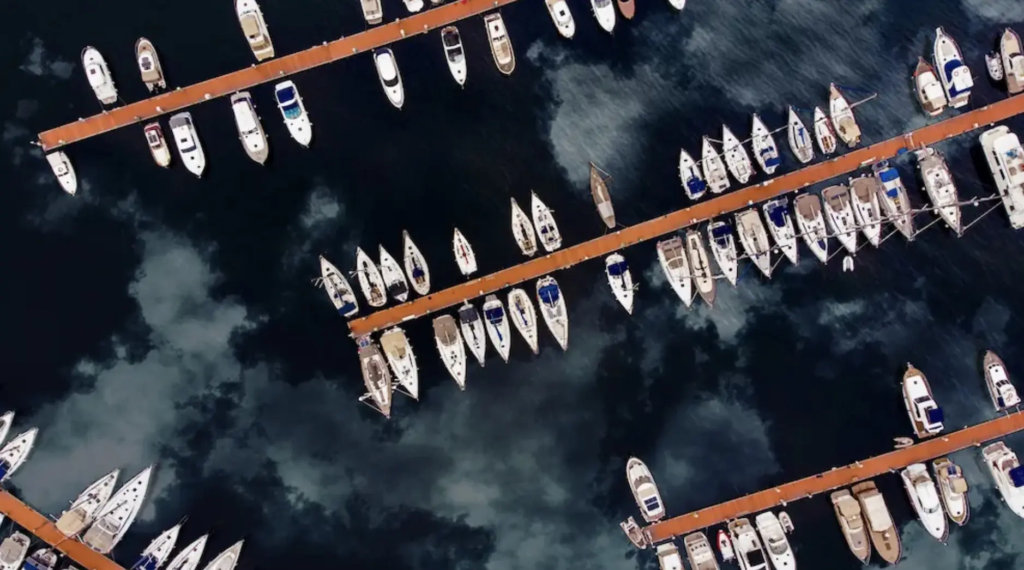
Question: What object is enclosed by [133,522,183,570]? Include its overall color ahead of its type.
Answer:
white boat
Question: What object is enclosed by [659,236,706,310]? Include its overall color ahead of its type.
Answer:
white boat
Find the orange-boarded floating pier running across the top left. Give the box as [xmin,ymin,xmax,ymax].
[39,0,522,151]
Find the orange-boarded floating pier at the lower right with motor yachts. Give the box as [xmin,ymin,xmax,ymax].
[644,410,1024,543]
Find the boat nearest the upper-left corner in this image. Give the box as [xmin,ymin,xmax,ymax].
[84,44,118,106]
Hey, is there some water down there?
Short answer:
Yes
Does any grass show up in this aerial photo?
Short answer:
No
